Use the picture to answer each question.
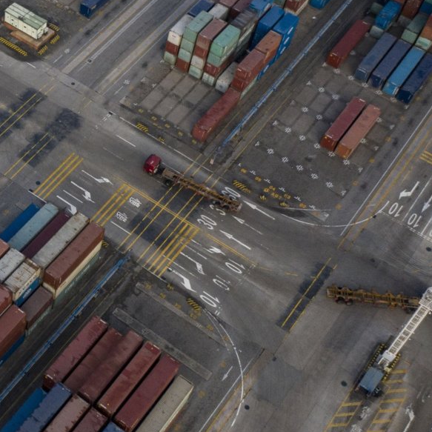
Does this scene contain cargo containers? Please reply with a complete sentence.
Yes, you can see a cargo container in this photo.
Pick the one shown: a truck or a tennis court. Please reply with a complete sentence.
Of the two, only a truck appears.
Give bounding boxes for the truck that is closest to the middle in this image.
[139,154,233,210]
